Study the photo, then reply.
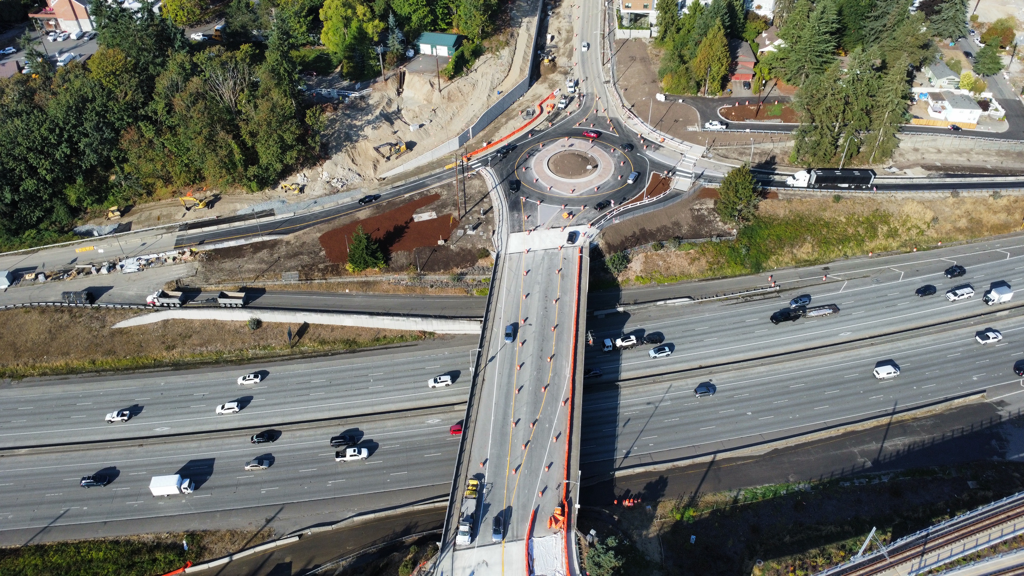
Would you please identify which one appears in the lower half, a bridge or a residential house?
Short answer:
bridge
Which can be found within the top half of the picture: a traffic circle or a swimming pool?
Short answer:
traffic circle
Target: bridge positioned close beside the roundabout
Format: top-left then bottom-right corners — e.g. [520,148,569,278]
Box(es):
[441,242,588,557]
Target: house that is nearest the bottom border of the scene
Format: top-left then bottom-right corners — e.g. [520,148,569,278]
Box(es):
[926,90,986,122]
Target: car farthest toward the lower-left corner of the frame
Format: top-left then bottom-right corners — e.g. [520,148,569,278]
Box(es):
[79,475,110,490]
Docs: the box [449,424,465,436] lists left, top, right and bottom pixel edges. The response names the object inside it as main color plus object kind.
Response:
red vehicle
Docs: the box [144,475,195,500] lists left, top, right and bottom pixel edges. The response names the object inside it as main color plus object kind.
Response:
white truck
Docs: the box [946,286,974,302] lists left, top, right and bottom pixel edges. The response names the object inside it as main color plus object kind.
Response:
white vehicle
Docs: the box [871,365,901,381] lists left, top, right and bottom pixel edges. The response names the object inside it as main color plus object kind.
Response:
white vehicle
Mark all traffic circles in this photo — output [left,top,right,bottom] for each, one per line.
[516,137,633,197]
